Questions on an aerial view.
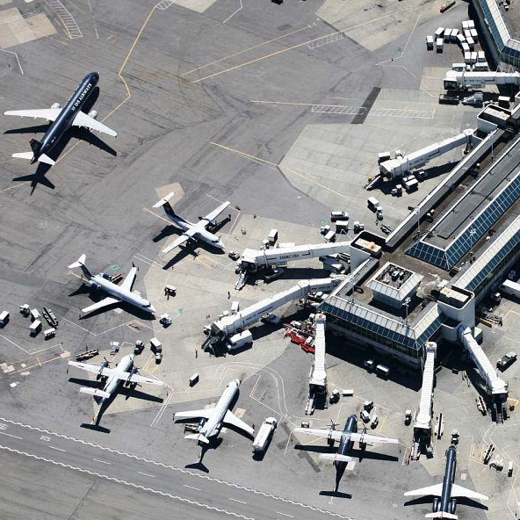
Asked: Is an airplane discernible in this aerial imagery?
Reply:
Yes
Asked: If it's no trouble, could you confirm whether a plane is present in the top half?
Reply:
Yes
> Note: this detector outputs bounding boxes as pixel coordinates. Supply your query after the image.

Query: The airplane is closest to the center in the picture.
[154,193,231,252]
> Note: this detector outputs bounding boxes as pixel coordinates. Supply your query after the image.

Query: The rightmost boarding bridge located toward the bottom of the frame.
[461,322,507,423]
